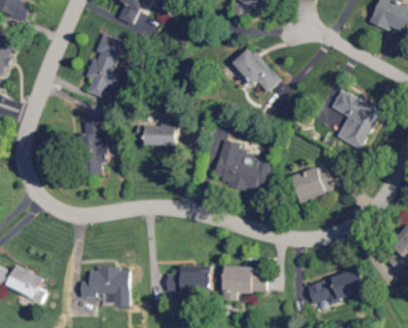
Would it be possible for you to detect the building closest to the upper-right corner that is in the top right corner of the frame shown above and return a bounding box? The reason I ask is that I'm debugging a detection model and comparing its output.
[374,0,408,32]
